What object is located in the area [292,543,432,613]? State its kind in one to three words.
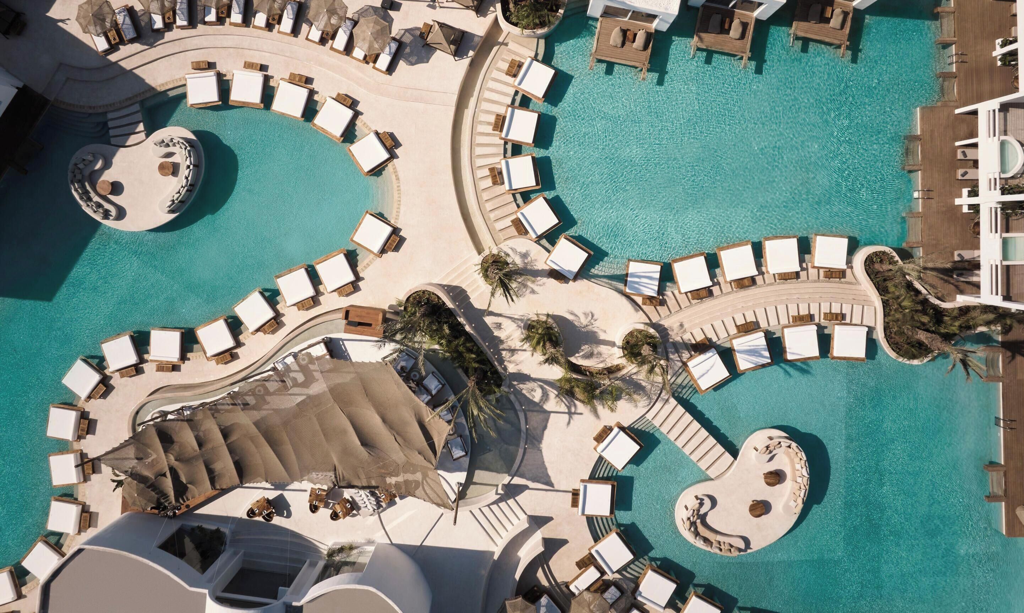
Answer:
building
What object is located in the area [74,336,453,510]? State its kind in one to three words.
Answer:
tent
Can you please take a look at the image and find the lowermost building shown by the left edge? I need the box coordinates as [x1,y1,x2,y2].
[36,516,237,613]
